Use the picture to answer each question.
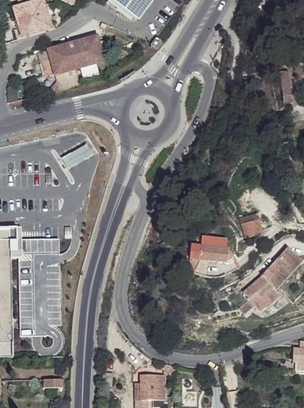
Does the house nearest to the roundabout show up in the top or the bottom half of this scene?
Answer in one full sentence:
The house nearest to the roundabout is in the top half of the image.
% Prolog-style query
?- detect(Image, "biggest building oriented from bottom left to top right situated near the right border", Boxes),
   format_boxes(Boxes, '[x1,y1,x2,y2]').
[240,247,304,314]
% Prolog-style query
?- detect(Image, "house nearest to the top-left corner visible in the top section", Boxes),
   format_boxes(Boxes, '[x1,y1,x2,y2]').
[12,0,54,35]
